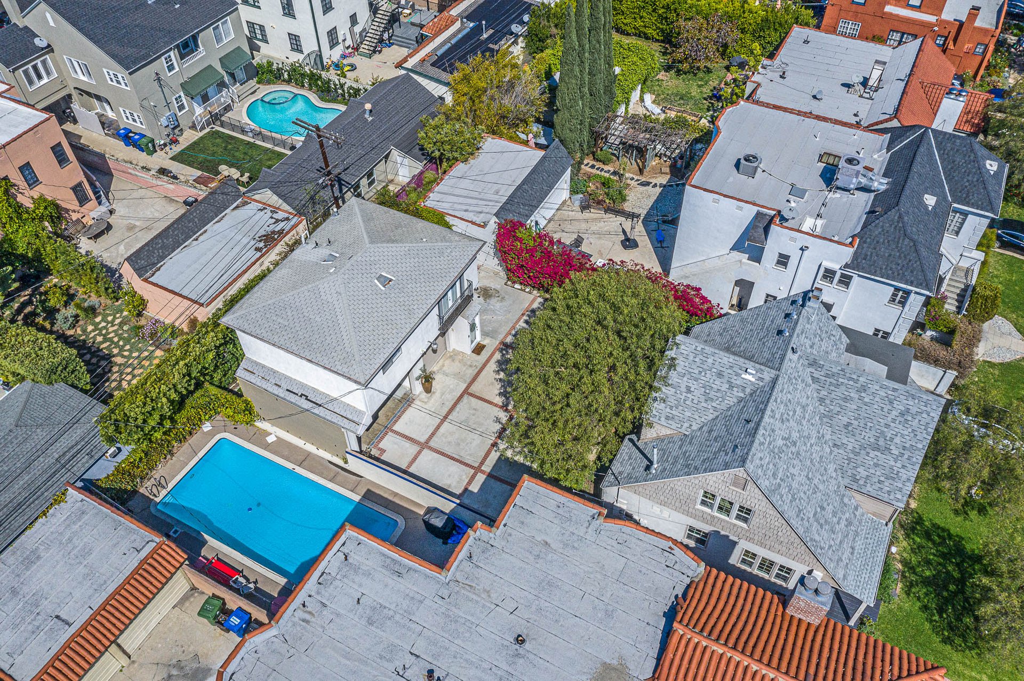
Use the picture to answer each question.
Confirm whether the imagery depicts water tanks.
No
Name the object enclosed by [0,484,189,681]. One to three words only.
building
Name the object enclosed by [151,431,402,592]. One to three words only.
swimming pool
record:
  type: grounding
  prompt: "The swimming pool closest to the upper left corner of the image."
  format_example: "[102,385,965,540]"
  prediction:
[224,84,345,142]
